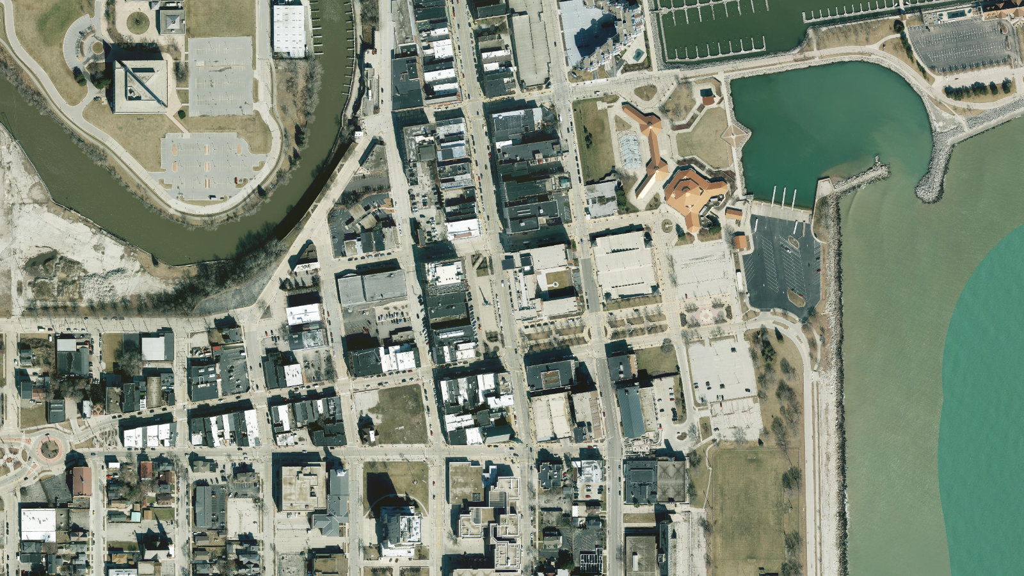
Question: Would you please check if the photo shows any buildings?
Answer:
Yes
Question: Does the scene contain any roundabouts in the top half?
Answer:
No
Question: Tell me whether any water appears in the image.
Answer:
Yes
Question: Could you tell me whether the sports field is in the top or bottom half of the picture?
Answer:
bottom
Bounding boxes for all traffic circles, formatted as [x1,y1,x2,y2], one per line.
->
[27,426,71,469]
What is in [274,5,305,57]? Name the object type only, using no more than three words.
building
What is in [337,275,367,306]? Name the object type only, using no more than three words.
building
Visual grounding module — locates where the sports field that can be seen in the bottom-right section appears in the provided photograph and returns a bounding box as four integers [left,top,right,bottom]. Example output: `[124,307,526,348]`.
[713,449,804,576]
